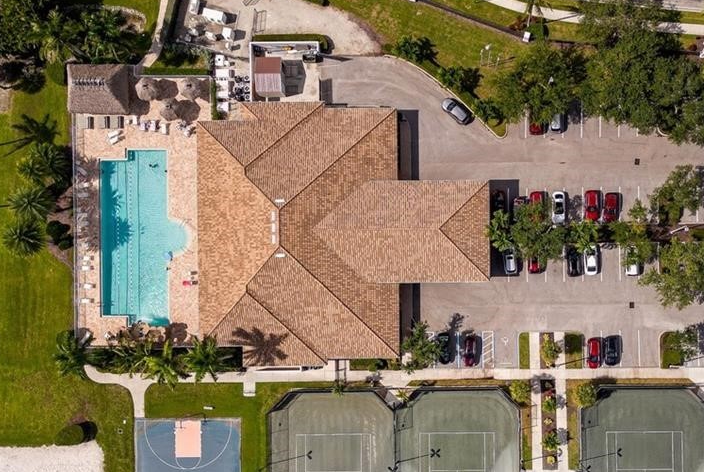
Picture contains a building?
Yes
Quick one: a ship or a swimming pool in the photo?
swimming pool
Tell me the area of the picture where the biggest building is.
center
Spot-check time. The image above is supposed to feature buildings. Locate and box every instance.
[194,101,489,370]
[253,54,282,96]
[63,61,133,118]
